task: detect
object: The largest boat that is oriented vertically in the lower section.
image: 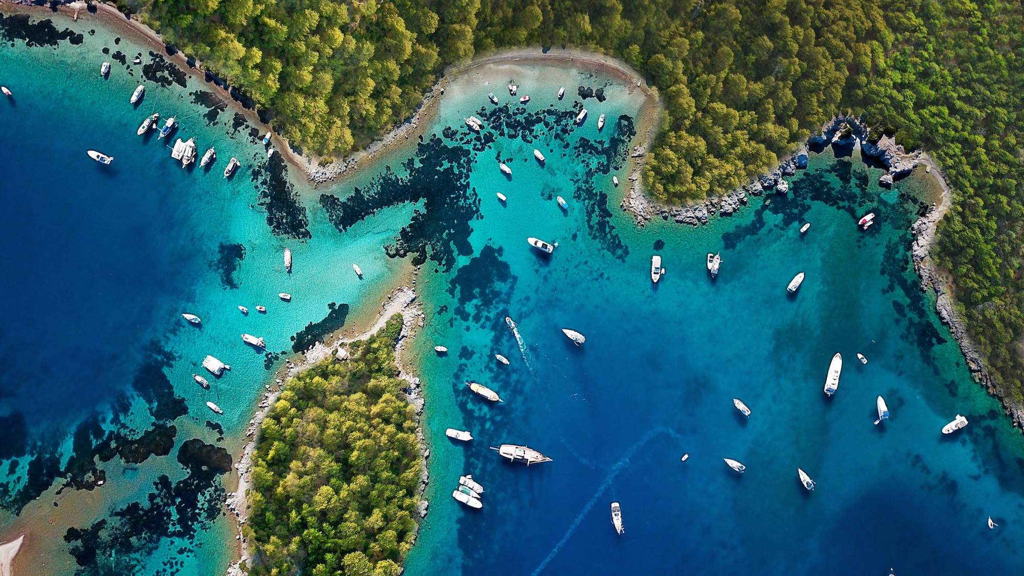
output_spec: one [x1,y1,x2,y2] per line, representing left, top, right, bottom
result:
[825,354,843,398]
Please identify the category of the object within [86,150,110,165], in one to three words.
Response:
boat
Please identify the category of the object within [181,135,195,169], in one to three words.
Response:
boat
